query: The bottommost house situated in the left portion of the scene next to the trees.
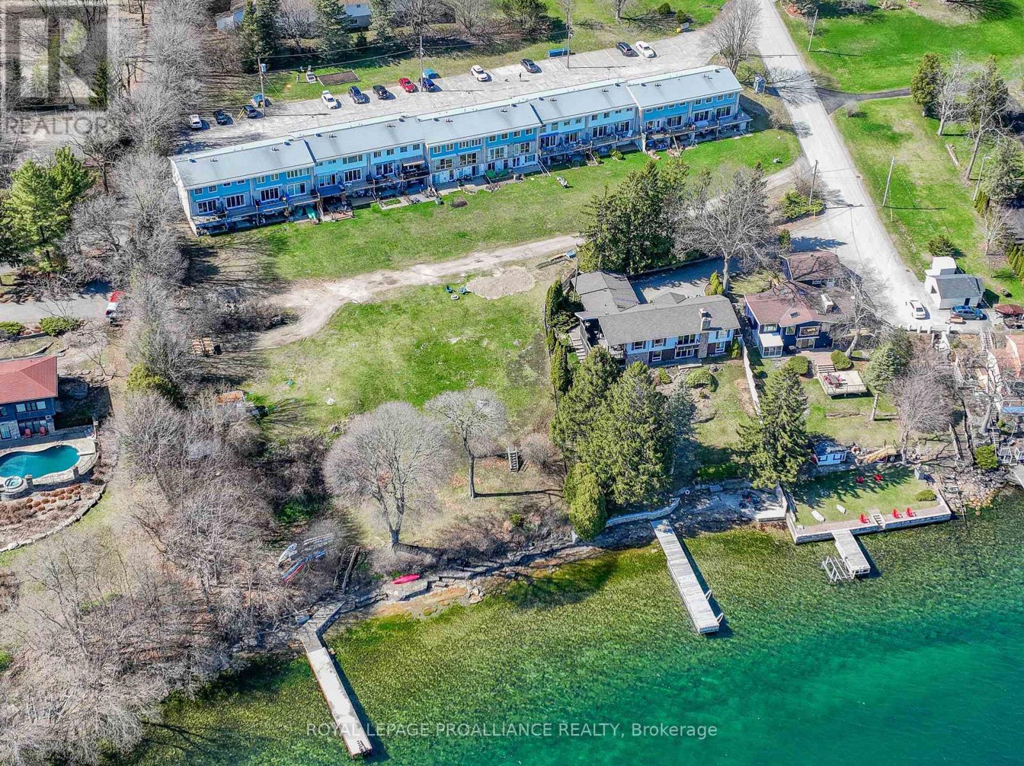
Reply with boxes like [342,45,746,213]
[0,355,59,436]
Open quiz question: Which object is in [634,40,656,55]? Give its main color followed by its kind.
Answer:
white car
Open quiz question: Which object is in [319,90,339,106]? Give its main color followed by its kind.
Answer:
white car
